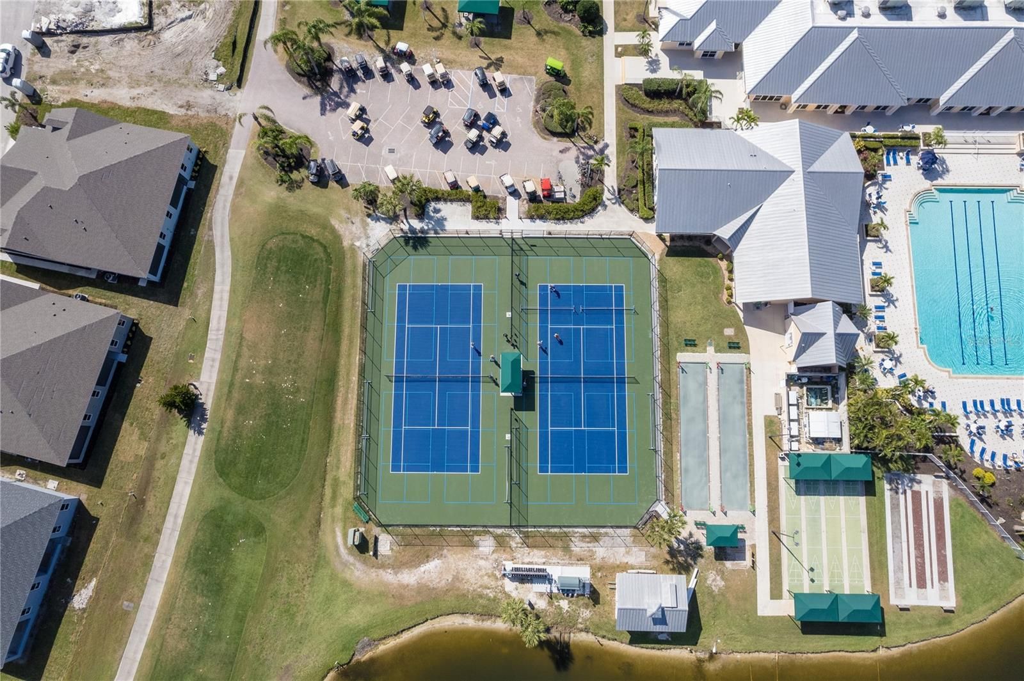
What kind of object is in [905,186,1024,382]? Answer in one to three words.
swimming pool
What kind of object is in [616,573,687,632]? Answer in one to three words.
shed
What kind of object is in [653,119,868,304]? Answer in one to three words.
building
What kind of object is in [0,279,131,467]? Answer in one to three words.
house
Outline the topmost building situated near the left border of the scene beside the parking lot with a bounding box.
[0,107,199,282]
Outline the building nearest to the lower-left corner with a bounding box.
[0,478,79,671]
